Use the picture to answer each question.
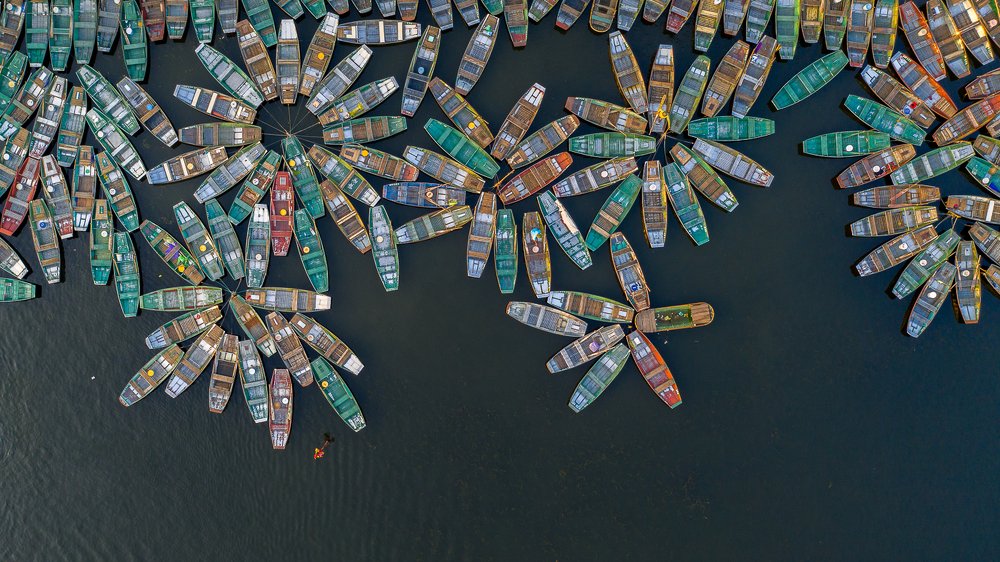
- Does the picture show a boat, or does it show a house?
boat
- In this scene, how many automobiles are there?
none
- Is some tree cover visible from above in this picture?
No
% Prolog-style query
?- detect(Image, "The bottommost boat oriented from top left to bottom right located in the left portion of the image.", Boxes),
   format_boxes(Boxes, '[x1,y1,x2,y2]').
[310,356,366,432]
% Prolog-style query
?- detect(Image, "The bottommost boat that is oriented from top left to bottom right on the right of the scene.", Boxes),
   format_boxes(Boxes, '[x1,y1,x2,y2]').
[627,329,682,409]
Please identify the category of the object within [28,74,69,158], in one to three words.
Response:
boat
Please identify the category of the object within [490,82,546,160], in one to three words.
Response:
boat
